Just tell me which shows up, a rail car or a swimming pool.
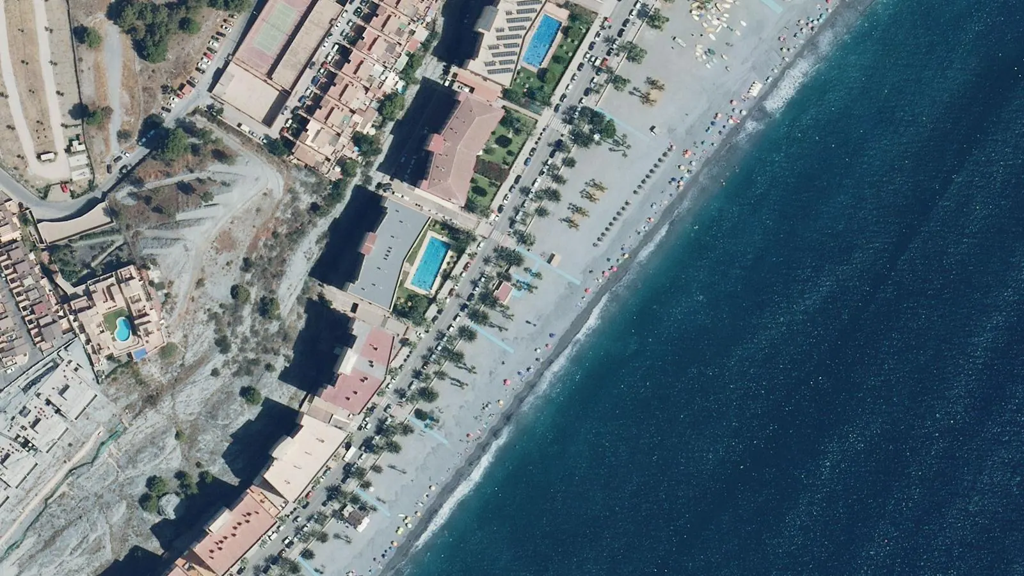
swimming pool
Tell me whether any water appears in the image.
Yes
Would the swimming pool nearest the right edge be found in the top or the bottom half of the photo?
top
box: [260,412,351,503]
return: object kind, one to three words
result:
building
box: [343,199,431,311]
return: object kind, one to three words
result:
building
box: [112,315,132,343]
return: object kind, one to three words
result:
swimming pool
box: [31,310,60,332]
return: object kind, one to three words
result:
house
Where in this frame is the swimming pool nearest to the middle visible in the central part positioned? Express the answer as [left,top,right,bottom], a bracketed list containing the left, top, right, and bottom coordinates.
[405,232,453,296]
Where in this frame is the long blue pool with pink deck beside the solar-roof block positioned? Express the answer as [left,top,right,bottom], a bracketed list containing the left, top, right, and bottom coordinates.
[520,2,569,73]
